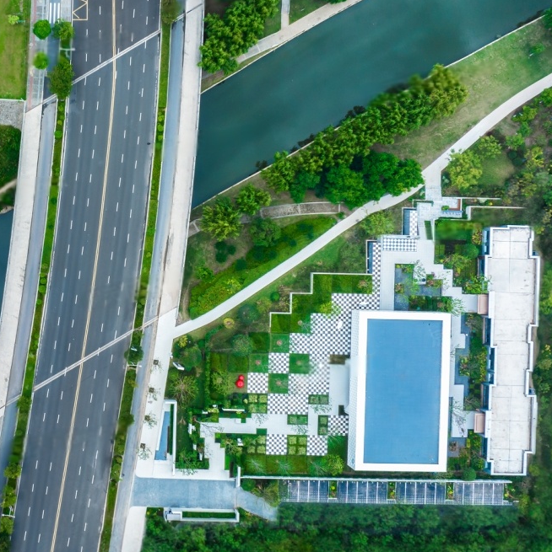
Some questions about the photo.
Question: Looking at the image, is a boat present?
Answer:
No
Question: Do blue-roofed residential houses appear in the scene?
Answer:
Yes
